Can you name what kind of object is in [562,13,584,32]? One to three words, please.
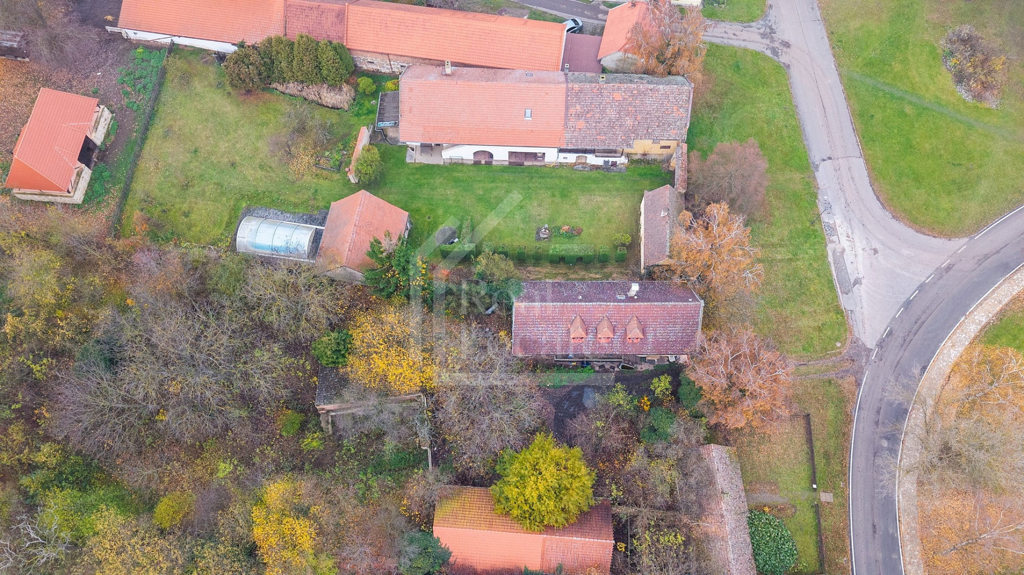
car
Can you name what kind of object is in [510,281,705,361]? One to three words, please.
house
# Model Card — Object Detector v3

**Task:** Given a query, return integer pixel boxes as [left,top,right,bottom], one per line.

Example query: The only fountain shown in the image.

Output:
[534,221,553,242]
